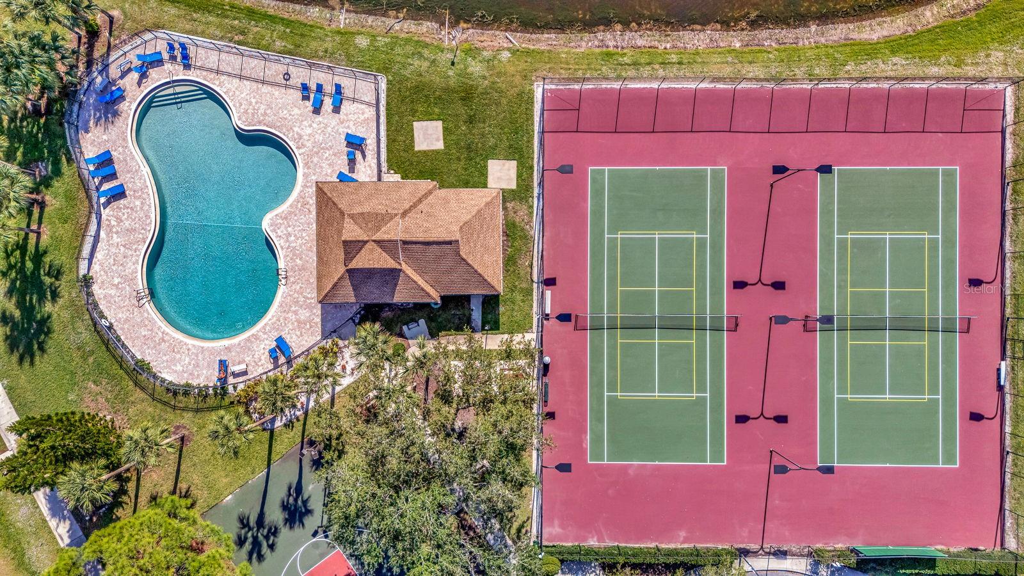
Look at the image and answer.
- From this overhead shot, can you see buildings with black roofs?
No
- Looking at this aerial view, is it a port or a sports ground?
sports ground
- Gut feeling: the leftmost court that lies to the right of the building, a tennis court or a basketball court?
tennis court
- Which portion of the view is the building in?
center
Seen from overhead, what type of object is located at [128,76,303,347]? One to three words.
swimming pool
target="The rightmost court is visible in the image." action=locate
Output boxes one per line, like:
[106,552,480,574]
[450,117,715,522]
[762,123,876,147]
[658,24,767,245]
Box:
[772,87,1004,547]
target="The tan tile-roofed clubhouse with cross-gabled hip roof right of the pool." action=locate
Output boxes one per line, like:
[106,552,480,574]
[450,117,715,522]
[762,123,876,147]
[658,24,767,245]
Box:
[315,181,503,304]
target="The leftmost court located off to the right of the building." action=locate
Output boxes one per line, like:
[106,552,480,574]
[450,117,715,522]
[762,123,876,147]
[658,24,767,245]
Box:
[544,87,772,547]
